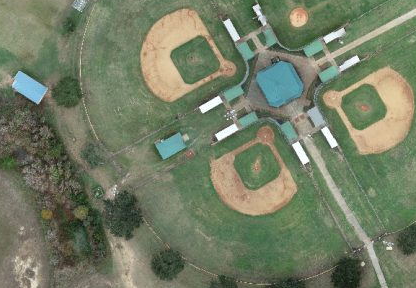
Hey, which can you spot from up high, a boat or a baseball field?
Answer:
baseball field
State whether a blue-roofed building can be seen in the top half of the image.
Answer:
Yes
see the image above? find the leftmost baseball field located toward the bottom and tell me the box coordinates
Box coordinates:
[139,123,351,285]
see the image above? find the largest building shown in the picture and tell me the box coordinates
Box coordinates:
[256,61,303,107]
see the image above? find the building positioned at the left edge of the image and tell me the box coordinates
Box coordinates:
[10,71,48,104]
